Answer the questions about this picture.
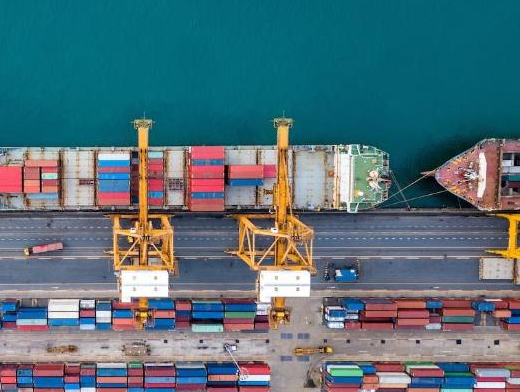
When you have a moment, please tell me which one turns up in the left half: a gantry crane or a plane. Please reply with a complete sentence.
The one visible in the left half is a gantry crane.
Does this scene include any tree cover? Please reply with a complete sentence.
No, no tree cover is visible.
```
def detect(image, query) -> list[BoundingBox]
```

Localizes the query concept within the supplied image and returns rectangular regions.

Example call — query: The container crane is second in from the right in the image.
[227,111,319,329]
